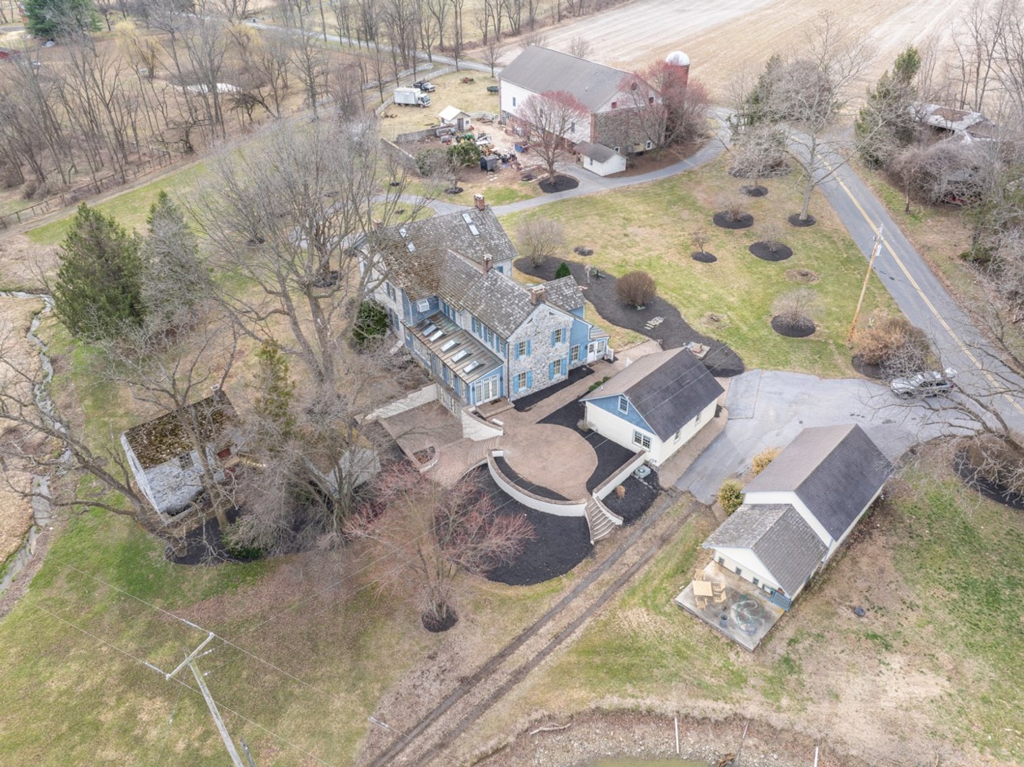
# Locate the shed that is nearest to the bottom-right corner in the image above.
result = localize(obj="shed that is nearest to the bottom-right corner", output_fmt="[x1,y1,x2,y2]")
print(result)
[704,424,893,610]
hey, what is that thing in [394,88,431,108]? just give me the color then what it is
white vehicle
